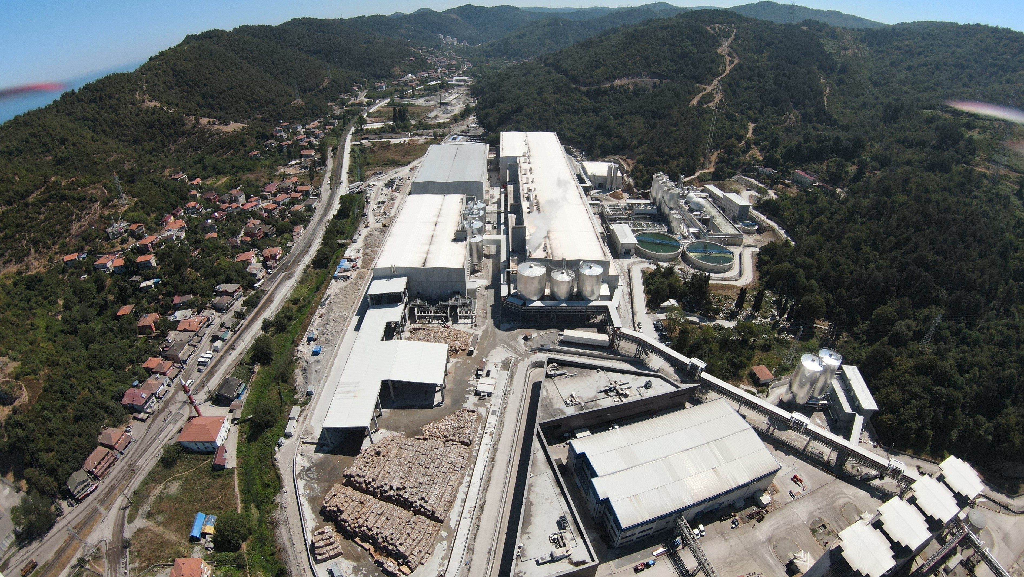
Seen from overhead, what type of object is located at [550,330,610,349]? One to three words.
building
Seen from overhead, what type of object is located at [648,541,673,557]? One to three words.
vehicle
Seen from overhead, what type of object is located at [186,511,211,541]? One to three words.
shed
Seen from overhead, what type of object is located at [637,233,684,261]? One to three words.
storage tank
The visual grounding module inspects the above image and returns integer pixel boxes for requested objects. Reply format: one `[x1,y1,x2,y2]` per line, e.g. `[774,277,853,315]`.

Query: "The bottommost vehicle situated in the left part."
[16,556,35,575]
